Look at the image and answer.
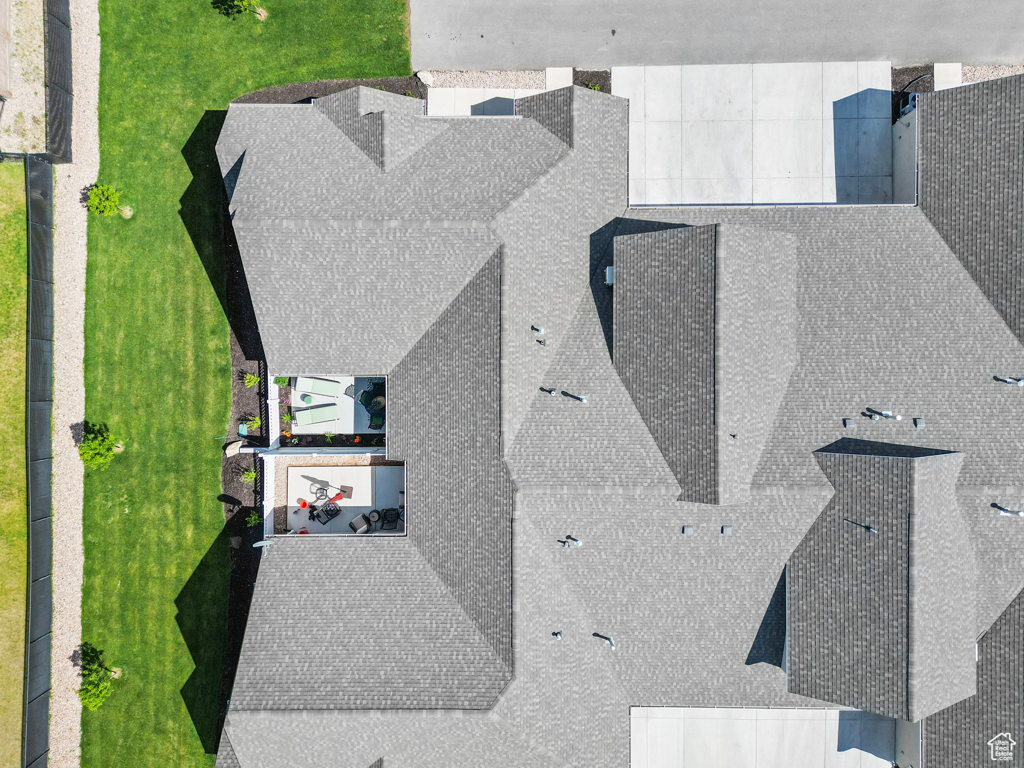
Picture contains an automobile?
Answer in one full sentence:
No, there isn't any automobile down there.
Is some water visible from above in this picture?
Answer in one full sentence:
No, no water is visible.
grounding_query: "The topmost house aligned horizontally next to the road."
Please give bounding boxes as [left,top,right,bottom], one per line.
[215,85,1024,506]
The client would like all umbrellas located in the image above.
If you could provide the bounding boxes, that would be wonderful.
[330,485,353,503]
